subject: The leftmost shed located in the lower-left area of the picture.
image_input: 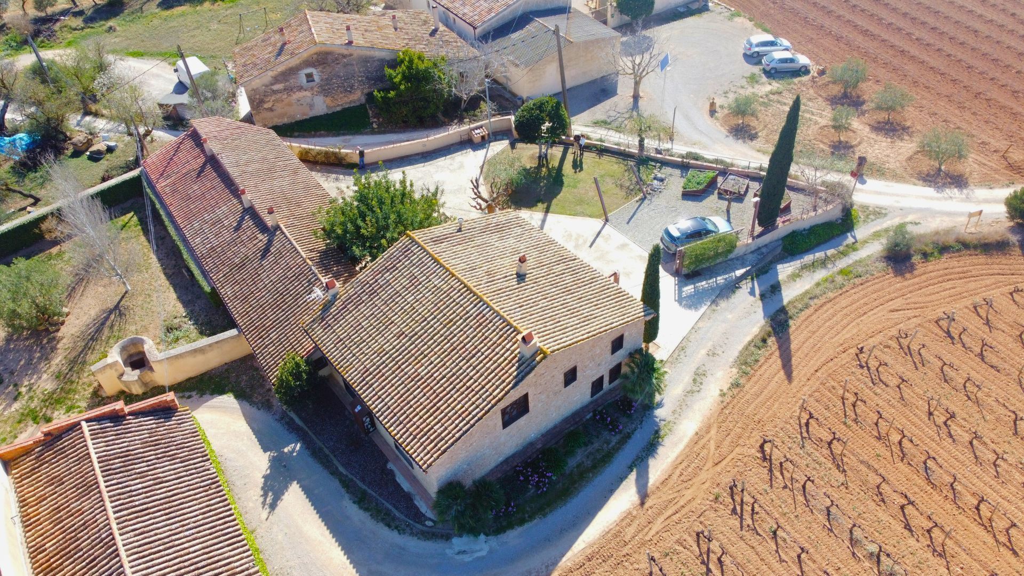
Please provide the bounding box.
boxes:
[0,385,260,576]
